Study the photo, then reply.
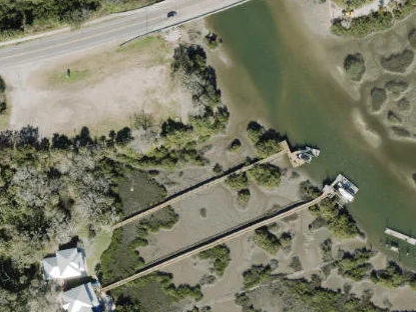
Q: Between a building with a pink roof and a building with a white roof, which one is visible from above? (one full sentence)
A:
Of the two, only a building with a white roof appears.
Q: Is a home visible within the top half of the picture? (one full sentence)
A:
No, I see no home within the top half of the picture.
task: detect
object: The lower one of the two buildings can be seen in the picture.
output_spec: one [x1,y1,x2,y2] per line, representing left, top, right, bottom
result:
[62,283,99,312]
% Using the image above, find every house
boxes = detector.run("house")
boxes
[62,283,99,312]
[41,250,84,281]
